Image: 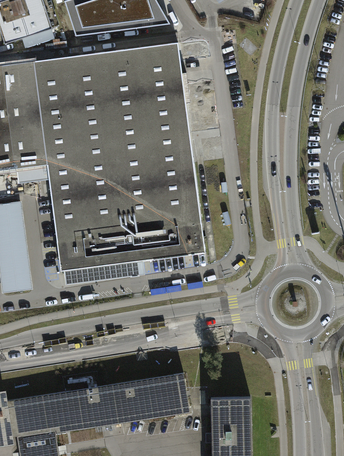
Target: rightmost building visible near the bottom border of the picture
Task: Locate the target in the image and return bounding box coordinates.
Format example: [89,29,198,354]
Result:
[211,395,252,456]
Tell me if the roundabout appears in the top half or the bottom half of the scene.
bottom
